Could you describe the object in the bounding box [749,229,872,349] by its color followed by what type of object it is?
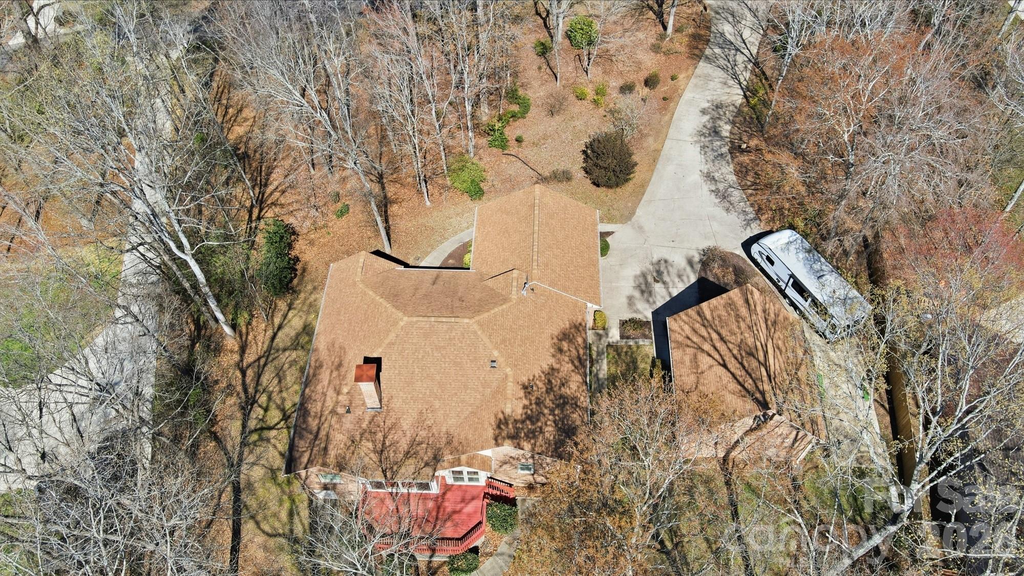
white trailer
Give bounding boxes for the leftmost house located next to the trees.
[281,187,603,509]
